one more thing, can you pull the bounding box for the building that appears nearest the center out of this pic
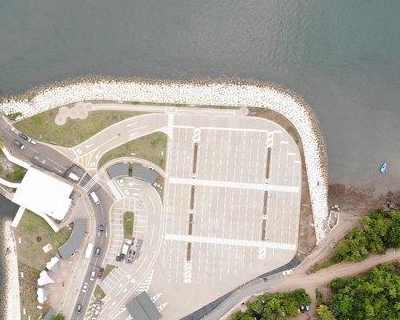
[132,164,159,183]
